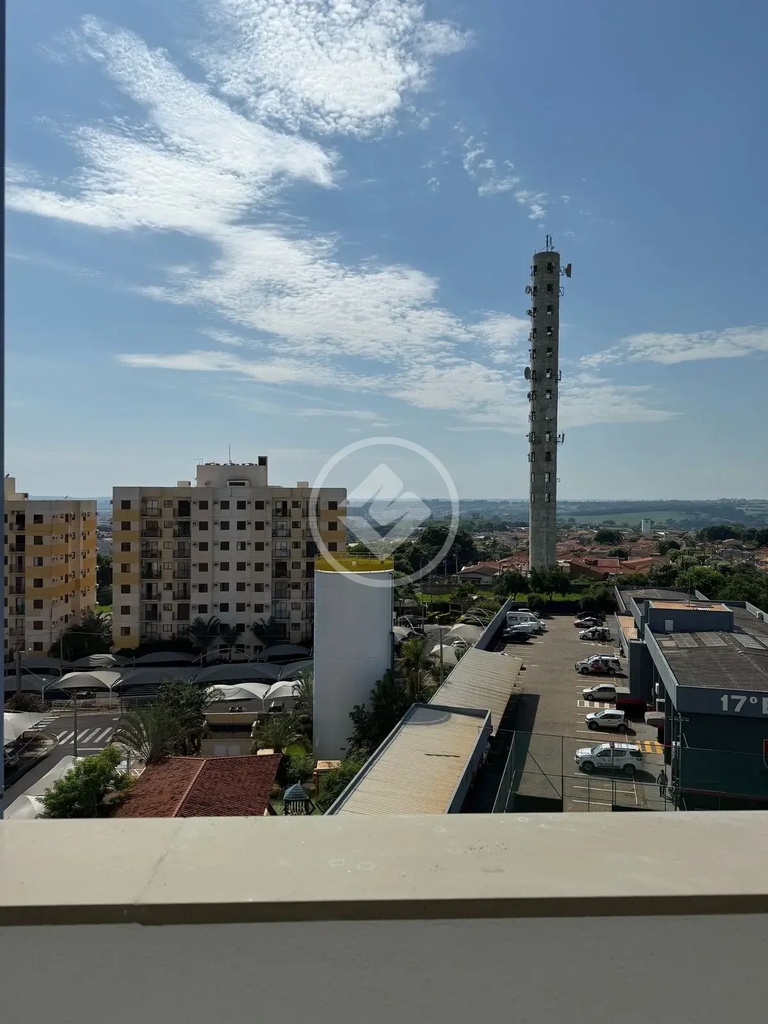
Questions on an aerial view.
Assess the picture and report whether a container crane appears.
No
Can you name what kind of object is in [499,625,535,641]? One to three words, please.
car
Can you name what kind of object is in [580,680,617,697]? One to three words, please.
car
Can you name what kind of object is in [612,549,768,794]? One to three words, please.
building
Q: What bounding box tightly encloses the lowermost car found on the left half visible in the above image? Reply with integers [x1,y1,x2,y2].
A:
[3,739,48,765]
